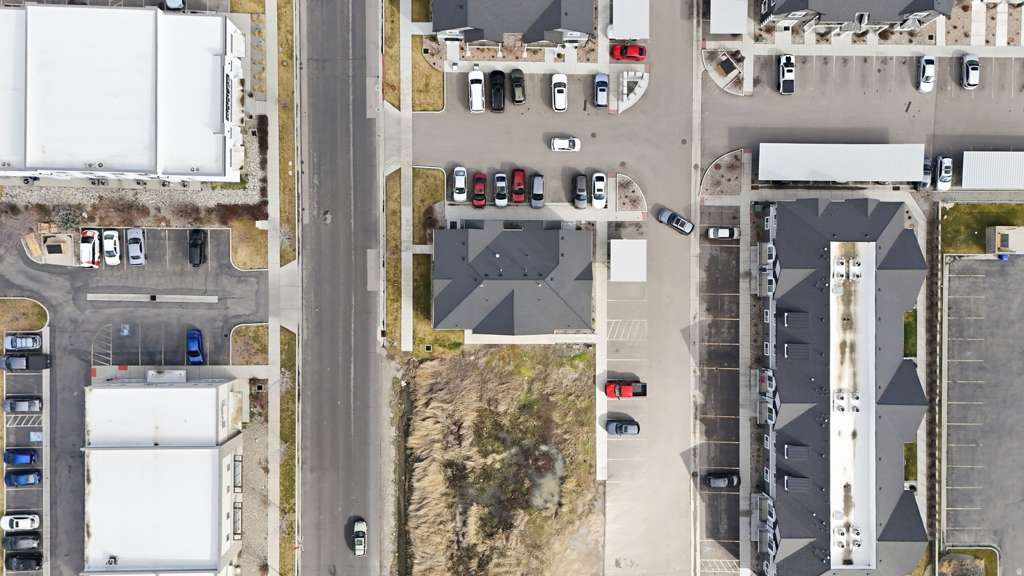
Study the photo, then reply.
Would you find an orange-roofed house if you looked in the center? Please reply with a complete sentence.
No, there's no orange-roofed house to be seen in the center.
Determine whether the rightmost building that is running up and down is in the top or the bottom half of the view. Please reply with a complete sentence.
You can find the rightmost building that is running up and down in the bottom half.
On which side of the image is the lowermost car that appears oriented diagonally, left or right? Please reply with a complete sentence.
The lowermost car that appears oriented diagonally appears in the right half of the scene.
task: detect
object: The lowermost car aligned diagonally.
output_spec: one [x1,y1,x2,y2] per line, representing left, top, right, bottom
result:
[657,207,695,237]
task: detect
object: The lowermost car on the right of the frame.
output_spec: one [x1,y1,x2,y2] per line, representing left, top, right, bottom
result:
[705,472,740,490]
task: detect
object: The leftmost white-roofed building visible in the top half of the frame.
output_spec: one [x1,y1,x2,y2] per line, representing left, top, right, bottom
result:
[0,5,245,183]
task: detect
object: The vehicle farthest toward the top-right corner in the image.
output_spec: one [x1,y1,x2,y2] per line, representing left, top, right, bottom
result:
[959,54,981,90]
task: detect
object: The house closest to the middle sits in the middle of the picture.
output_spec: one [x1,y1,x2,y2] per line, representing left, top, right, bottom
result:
[432,219,594,337]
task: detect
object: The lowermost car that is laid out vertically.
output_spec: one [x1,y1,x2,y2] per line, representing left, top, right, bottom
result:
[351,519,368,557]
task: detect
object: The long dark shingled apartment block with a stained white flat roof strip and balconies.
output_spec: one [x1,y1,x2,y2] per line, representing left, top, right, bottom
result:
[756,197,928,576]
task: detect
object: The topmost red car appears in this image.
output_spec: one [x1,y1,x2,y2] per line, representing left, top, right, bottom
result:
[610,43,647,62]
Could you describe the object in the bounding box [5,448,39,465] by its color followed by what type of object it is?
blue car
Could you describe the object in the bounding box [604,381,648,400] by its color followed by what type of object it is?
red vehicle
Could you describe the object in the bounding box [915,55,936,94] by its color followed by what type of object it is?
white car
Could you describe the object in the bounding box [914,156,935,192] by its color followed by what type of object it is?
gray car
